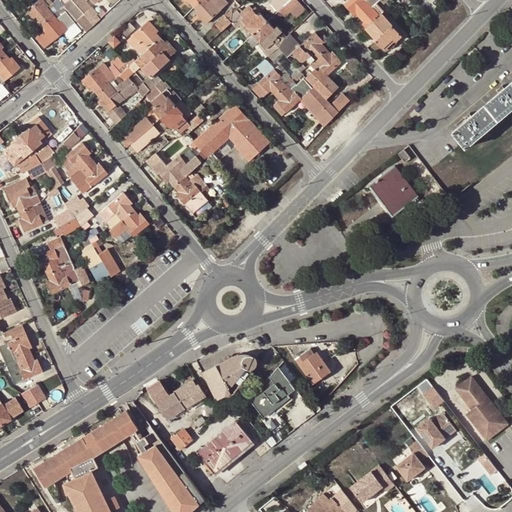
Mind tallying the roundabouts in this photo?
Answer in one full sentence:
In total, there are 2 roundabouts in the scene.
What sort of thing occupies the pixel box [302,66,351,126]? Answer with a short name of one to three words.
house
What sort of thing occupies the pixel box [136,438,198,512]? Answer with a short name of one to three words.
building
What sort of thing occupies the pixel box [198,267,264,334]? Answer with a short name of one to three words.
roundabout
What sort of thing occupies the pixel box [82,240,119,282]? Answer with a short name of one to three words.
house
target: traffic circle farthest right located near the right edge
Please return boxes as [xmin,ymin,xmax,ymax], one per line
[406,254,486,336]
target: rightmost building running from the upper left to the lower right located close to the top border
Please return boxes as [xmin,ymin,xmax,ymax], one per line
[347,0,402,52]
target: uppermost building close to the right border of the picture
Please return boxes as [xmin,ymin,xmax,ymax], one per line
[452,88,512,150]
